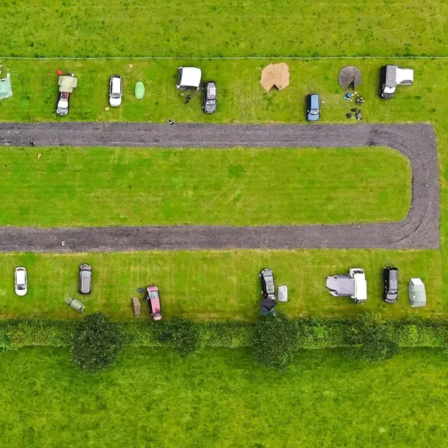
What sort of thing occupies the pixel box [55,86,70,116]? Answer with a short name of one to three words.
car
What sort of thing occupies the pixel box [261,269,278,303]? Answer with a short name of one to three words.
car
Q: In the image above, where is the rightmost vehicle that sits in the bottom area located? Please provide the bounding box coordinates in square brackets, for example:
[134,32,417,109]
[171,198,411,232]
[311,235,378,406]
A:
[381,267,400,303]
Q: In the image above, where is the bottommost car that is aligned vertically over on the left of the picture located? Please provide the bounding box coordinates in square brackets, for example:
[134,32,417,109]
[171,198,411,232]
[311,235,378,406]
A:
[145,285,162,323]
